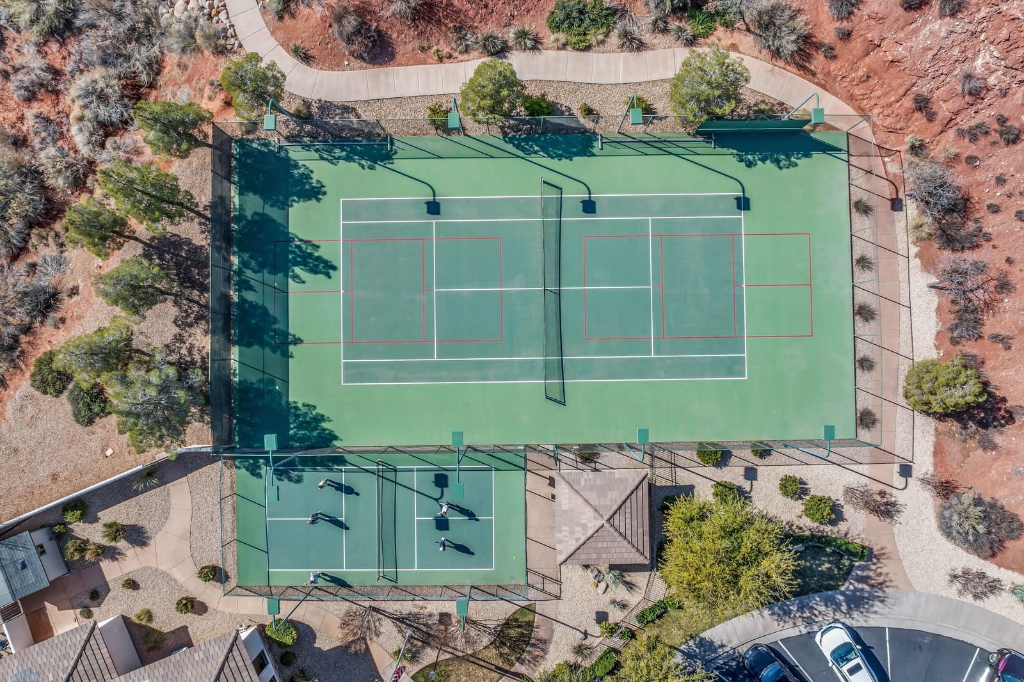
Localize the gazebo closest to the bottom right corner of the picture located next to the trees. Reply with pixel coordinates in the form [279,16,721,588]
[554,466,653,568]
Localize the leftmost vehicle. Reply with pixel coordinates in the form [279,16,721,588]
[742,637,809,682]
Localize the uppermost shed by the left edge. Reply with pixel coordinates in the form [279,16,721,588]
[0,527,70,608]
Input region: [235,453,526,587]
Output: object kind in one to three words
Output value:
sports court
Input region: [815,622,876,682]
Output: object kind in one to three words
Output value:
car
